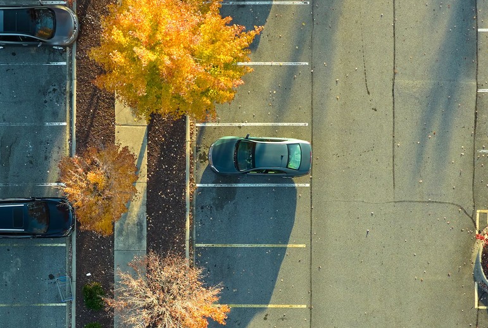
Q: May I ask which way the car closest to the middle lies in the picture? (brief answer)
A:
from side to side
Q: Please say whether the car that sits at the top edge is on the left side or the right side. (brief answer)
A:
left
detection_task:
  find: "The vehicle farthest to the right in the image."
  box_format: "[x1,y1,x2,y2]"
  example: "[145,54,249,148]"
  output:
[204,131,311,181]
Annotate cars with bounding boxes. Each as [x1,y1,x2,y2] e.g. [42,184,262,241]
[0,0,82,50]
[204,131,311,181]
[0,191,81,244]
